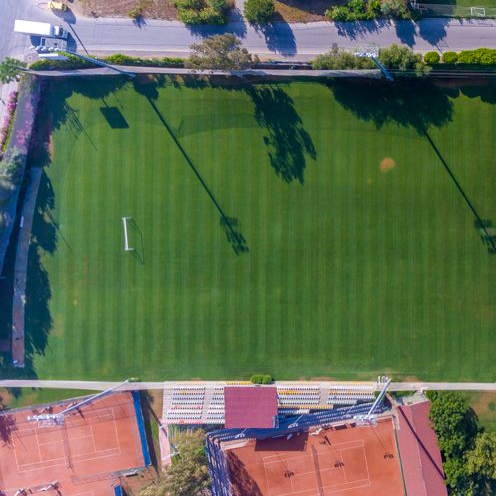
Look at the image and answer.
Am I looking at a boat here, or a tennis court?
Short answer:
tennis court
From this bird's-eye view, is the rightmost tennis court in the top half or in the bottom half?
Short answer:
bottom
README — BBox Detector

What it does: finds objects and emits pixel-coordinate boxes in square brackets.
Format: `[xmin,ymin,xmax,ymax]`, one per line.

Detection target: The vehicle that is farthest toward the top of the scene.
[48,0,73,13]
